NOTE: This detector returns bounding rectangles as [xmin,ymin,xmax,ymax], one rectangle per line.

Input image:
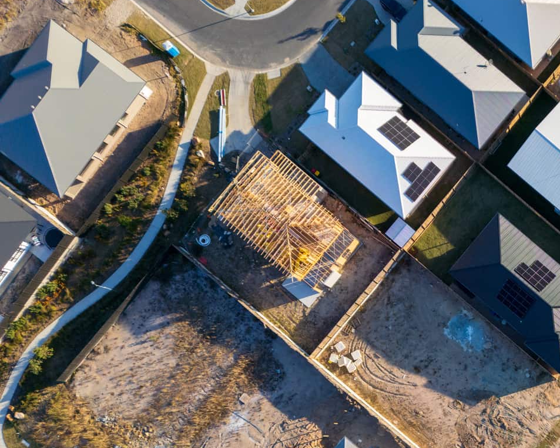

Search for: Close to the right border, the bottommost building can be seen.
[448,212,560,372]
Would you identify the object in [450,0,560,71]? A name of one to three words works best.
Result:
house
